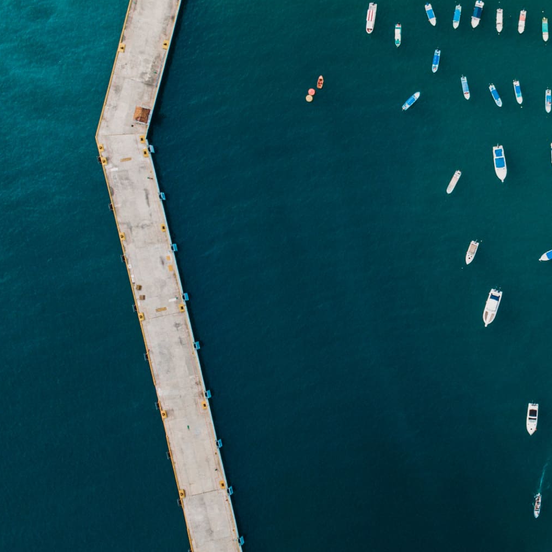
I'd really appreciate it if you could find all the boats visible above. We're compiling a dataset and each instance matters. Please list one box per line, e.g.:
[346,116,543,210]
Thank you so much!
[366,0,377,35]
[402,92,421,112]
[493,143,507,183]
[425,2,436,27]
[527,399,538,436]
[545,85,551,114]
[542,14,549,43]
[518,8,526,35]
[471,0,483,30]
[452,2,461,31]
[432,46,440,74]
[496,5,503,34]
[514,78,522,105]
[484,286,501,327]
[465,240,479,265]
[490,82,502,108]
[533,492,542,518]
[318,74,323,89]
[461,73,470,101]
[394,22,402,48]
[447,168,461,195]
[539,250,552,261]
